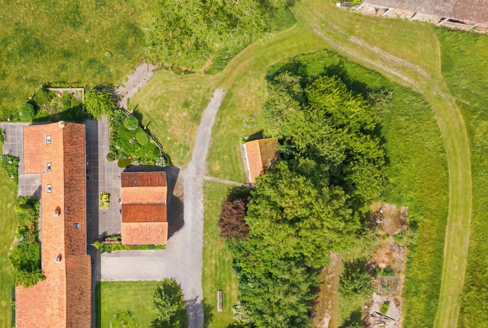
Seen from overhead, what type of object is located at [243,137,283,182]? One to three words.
shed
